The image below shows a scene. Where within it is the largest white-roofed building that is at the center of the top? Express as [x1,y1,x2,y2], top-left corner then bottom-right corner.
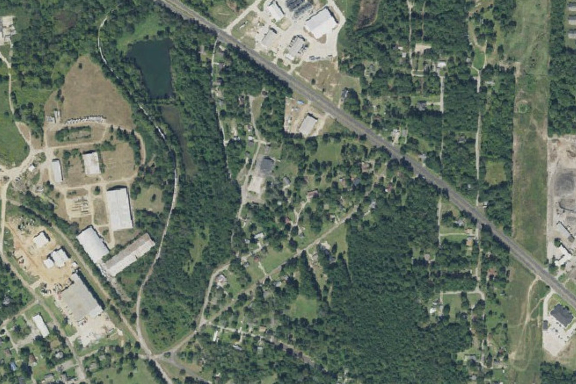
[304,7,338,39]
